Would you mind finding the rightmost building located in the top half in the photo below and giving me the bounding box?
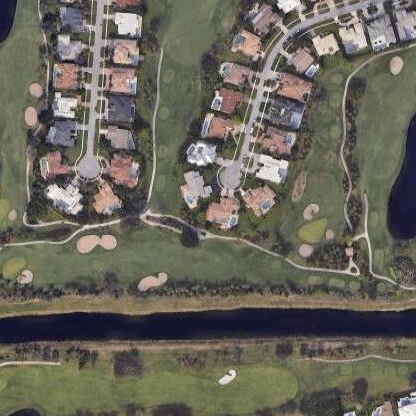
[395,8,416,39]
